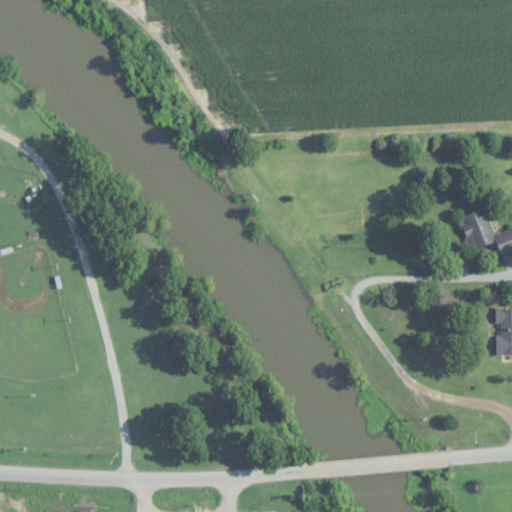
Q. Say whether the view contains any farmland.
Yes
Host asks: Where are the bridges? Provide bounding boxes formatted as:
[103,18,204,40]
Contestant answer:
[303,452,448,476]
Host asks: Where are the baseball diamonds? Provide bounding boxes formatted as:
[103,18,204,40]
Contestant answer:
[0,248,75,380]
